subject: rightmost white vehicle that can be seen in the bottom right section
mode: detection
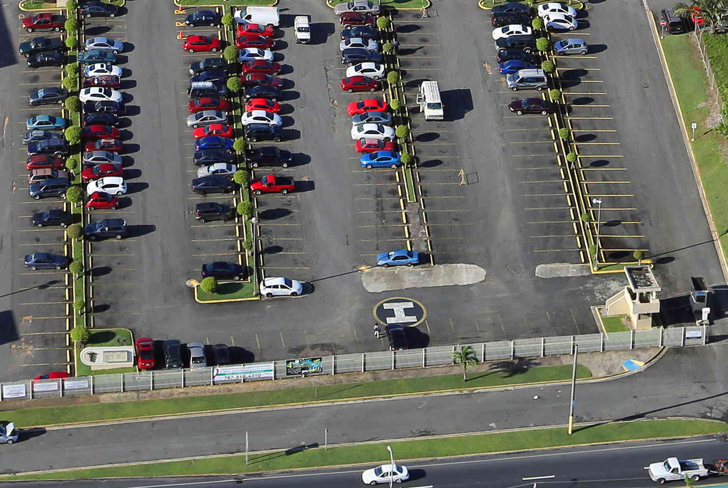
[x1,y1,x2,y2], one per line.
[647,459,708,485]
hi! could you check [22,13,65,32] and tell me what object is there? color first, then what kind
red vehicle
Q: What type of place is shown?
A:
parking lot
